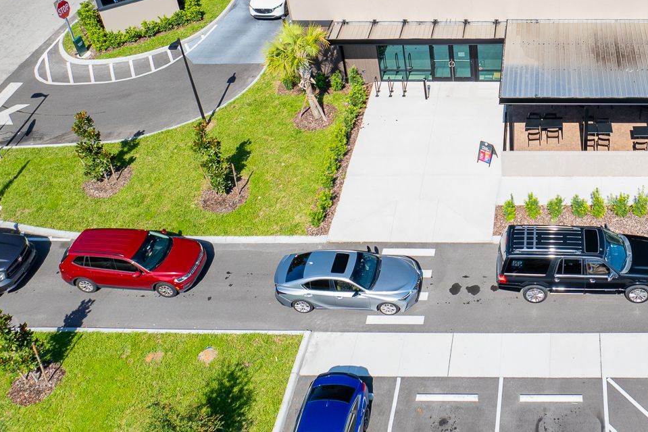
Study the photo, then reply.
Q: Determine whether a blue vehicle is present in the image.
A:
Yes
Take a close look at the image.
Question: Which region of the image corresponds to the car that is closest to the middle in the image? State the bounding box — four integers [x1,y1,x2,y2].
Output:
[271,242,420,313]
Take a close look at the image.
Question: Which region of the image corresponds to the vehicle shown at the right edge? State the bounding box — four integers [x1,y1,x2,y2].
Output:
[494,222,648,303]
